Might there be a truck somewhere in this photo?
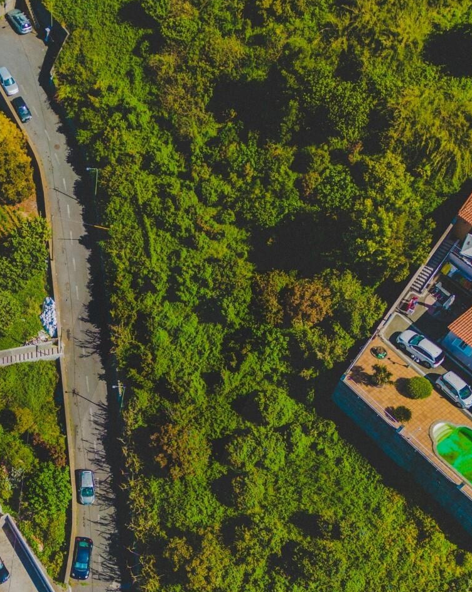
No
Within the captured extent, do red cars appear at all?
No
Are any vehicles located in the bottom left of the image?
Yes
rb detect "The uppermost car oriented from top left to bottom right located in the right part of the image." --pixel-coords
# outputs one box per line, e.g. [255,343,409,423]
[394,330,446,370]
